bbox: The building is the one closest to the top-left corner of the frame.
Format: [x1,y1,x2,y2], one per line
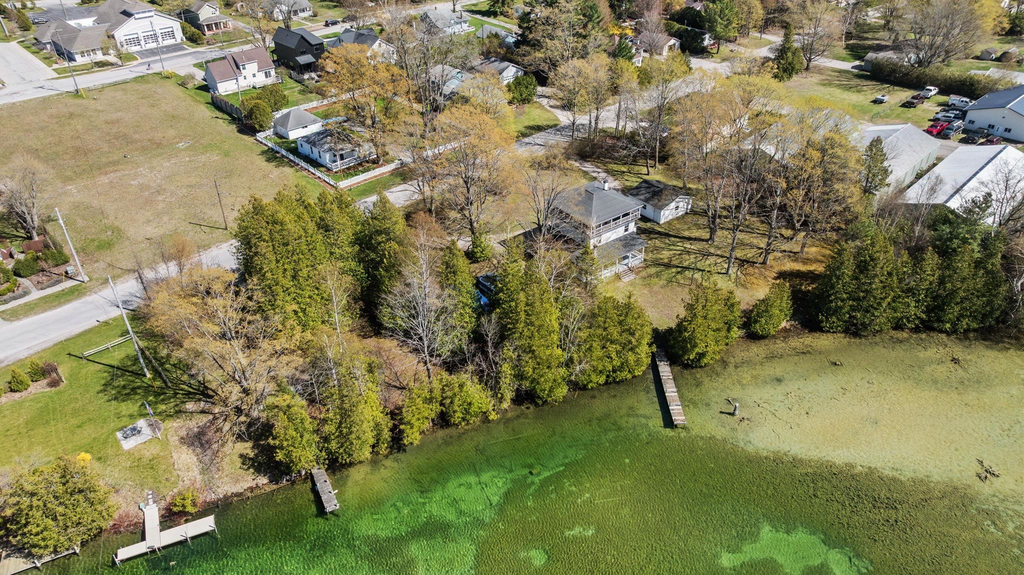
[32,1,180,62]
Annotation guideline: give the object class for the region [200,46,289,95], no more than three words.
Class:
house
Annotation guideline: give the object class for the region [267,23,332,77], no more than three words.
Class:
house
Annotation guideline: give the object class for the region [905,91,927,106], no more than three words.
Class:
vehicle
